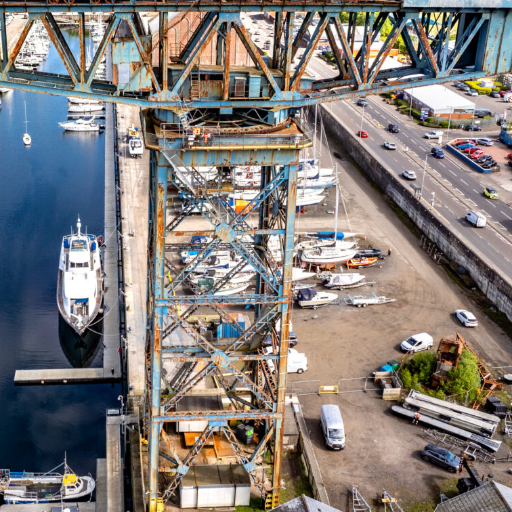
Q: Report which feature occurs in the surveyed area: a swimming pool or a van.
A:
van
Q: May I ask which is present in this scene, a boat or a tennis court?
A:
boat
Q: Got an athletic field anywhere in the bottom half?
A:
No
